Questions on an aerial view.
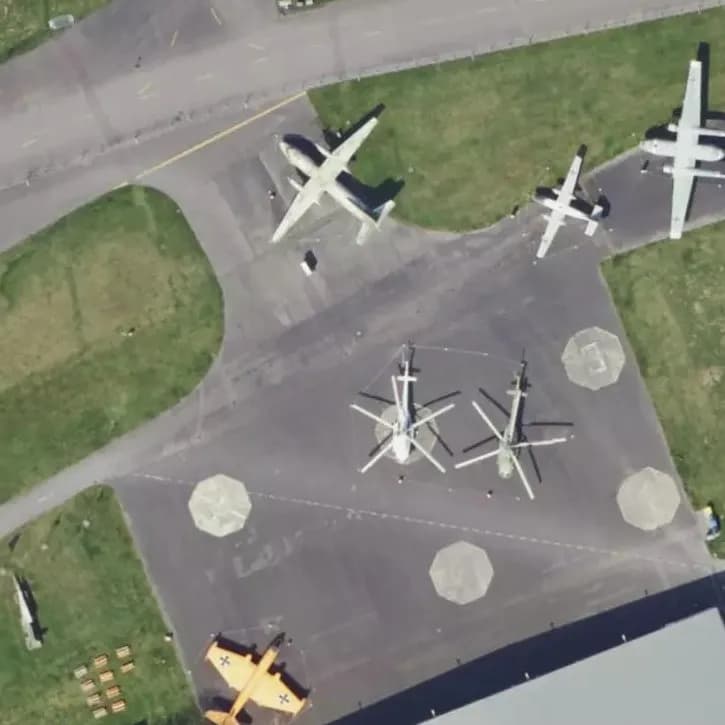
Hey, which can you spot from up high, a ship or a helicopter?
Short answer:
helicopter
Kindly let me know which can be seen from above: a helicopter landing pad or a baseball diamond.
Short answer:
helicopter landing pad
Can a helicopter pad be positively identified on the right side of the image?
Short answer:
Yes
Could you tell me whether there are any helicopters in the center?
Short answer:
Yes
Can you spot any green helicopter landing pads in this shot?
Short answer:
No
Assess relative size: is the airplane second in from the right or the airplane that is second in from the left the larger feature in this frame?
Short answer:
the airplane that is second in from the left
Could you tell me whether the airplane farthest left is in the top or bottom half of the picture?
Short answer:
bottom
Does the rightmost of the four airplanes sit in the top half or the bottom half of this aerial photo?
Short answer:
top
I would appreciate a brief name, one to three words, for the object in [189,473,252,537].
helipad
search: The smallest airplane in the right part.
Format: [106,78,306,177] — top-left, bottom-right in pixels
[532,156,603,257]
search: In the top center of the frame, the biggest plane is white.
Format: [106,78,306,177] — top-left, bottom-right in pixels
[271,118,395,245]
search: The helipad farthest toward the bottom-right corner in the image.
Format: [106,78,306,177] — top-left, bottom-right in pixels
[617,467,680,530]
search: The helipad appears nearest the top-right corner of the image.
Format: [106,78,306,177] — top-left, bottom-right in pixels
[562,326,625,389]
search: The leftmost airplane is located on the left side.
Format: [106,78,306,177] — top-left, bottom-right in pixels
[203,633,306,725]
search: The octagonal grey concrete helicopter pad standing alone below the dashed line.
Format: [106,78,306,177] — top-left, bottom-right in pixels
[430,541,493,604]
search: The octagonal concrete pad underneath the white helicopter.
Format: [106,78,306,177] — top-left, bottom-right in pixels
[375,400,438,462]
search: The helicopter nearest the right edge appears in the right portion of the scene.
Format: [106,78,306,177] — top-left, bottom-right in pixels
[456,367,567,498]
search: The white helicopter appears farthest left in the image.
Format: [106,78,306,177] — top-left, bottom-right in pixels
[352,353,455,472]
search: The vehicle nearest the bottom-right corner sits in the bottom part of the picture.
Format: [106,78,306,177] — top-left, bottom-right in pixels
[704,507,720,541]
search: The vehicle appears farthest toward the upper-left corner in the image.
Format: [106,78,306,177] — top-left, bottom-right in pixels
[49,16,74,28]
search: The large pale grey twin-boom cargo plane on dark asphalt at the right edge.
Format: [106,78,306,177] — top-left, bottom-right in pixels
[640,62,725,238]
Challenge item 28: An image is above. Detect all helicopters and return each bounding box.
[352,353,455,472]
[456,367,567,498]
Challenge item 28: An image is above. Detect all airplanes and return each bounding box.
[532,156,603,257]
[203,633,306,725]
[271,118,395,245]
[640,62,725,238]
